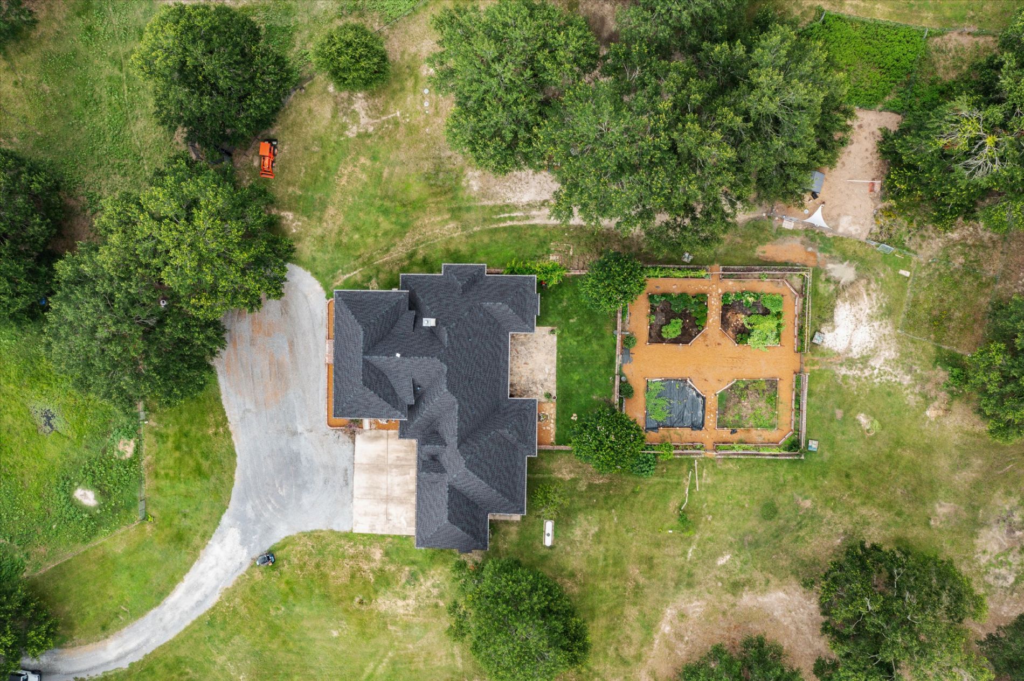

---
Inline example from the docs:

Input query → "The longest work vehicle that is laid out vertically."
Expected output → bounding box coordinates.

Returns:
[256,134,280,179]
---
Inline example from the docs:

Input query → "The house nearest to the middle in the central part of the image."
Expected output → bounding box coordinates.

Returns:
[333,264,539,553]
